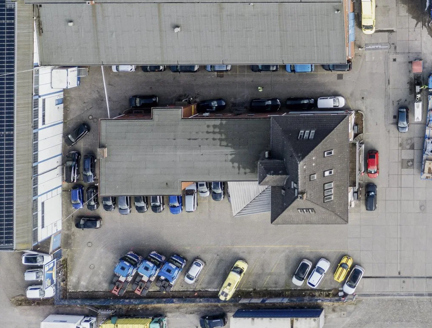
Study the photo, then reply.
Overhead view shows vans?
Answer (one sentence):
Yes, this view includes a van.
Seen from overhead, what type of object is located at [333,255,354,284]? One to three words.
car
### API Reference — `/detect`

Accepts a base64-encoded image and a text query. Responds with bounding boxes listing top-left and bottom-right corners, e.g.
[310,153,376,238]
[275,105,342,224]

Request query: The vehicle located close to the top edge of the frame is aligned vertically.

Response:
[361,0,377,33]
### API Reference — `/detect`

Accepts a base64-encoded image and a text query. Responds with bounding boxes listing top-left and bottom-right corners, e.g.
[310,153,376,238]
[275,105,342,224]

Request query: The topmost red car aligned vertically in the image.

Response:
[366,150,380,178]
